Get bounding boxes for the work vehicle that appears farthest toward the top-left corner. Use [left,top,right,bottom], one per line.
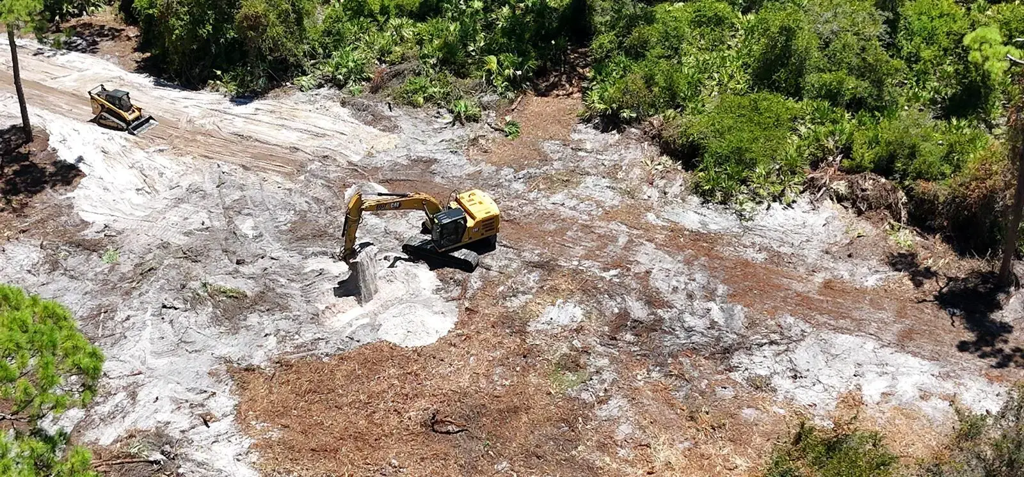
[87,79,156,135]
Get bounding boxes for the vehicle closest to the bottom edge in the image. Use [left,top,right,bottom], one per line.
[342,188,503,276]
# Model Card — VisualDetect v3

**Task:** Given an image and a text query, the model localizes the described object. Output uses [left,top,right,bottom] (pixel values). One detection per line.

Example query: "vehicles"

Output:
[342,188,503,276]
[87,79,156,135]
